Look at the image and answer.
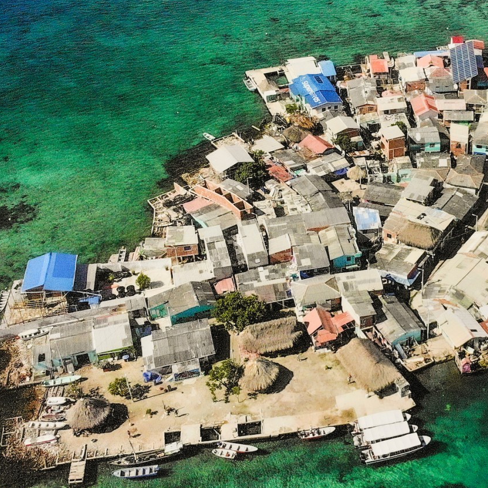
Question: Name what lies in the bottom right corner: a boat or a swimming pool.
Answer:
boat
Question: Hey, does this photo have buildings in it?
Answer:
Yes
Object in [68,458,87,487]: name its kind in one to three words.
pier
